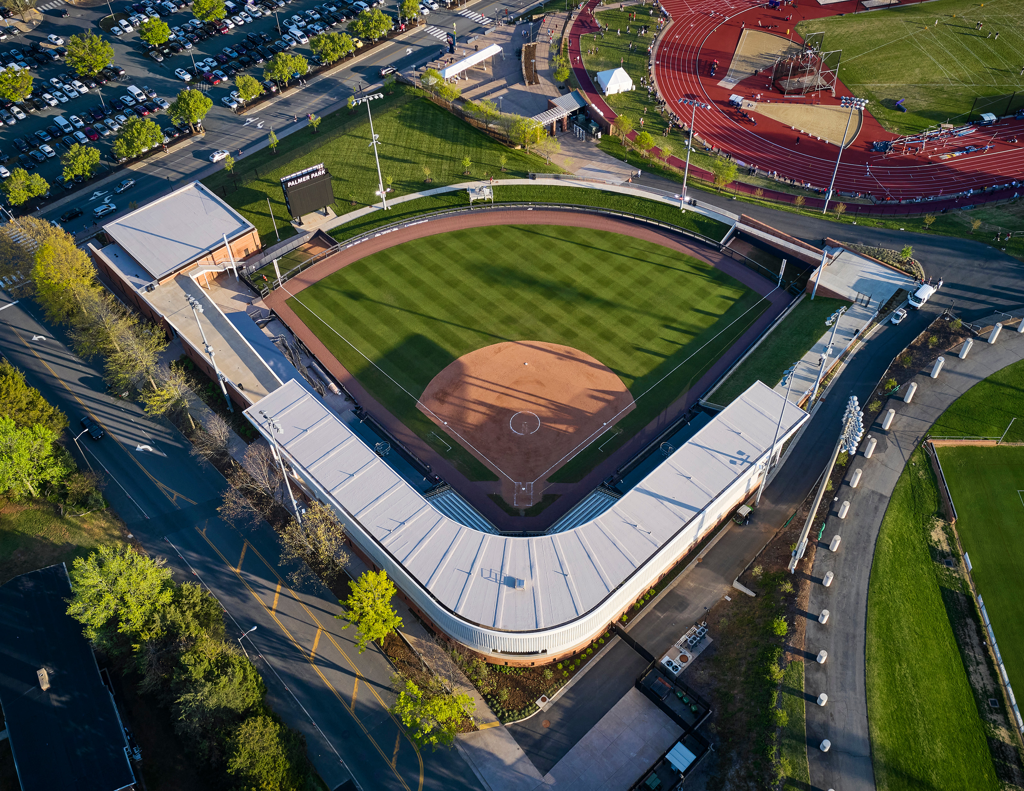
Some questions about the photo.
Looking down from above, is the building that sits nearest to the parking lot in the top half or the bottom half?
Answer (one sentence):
Seen from above, the building that sits nearest to the parking lot lies in the top half of the view.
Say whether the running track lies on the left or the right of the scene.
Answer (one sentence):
It is on the right.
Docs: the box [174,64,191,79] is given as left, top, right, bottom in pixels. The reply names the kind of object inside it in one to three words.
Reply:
car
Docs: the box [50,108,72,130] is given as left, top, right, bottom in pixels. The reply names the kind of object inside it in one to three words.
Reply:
vehicle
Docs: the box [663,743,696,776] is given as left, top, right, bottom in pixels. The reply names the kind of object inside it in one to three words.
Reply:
shed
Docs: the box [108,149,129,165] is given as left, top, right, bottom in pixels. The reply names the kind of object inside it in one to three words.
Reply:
vehicle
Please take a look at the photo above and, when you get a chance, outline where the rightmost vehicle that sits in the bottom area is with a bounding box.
[735,501,755,523]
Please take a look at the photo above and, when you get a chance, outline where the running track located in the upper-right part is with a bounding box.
[654,0,1024,199]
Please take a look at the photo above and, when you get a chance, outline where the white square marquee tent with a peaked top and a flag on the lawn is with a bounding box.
[597,62,633,94]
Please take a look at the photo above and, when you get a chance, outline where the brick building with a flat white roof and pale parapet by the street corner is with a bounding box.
[103,186,258,291]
